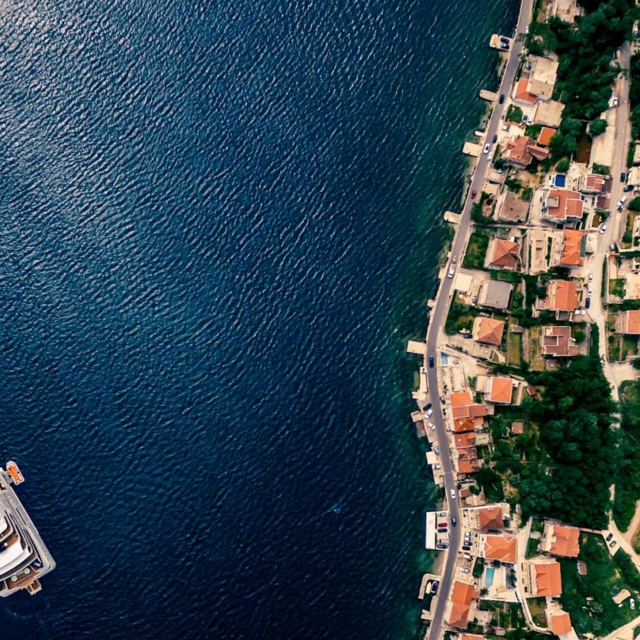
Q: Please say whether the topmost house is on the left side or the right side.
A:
right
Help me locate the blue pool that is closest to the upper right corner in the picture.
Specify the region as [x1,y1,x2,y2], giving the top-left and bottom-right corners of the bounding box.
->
[553,173,567,188]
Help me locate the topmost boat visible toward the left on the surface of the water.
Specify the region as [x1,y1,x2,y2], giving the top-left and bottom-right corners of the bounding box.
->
[7,461,24,484]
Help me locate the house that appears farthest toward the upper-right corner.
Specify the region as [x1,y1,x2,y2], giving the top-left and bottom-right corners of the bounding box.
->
[549,0,580,26]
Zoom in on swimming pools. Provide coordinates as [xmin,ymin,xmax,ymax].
[553,173,567,188]
[440,352,449,366]
[484,567,496,588]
